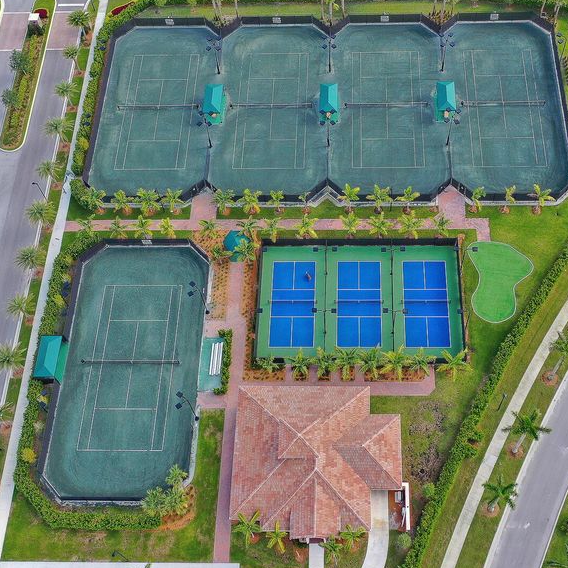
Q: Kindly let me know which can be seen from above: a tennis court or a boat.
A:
tennis court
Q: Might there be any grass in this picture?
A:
Yes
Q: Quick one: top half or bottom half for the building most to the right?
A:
top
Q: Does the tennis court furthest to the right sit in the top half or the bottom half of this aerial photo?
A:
top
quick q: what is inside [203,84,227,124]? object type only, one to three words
building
